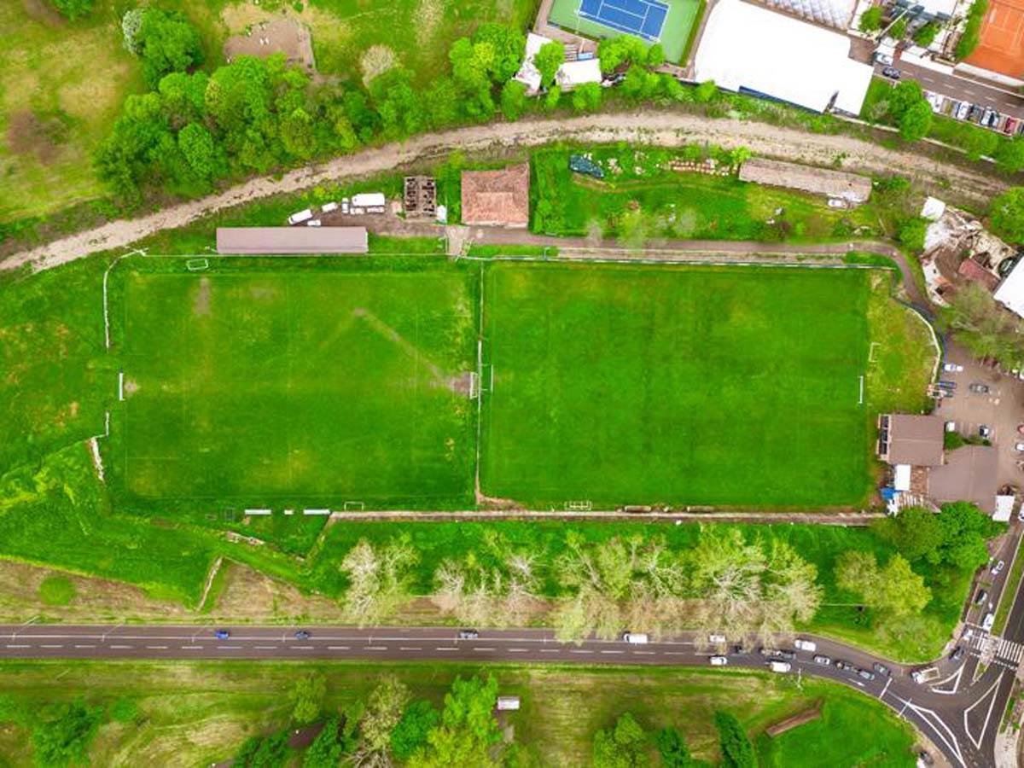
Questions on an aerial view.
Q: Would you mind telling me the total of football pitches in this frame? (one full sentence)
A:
Altogether the scene contains 2 football pitches.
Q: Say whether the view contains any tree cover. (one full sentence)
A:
Yes, tree cover shows up in the scene.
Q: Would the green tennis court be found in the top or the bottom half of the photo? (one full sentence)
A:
Seen from above, the green tennis court lies in the top half of the view.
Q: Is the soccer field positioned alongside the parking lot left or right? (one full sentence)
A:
The soccer field positioned alongside the parking lot is on the right side of the image.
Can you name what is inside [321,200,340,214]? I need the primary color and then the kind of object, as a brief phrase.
white vehicle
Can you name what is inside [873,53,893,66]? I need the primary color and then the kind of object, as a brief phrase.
white vehicle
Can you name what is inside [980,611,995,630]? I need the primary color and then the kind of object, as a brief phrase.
white car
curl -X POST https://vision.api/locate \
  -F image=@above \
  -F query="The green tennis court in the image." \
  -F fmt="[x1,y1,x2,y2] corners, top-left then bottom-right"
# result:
[547,0,698,64]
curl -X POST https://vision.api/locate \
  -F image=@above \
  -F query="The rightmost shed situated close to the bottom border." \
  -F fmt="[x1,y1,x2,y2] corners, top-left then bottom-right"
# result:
[764,701,823,738]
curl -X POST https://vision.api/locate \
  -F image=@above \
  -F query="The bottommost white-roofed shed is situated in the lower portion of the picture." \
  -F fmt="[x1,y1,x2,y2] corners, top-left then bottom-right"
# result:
[497,694,520,709]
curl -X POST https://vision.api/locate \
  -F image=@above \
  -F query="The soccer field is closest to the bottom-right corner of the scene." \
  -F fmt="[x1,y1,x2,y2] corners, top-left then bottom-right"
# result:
[488,267,868,507]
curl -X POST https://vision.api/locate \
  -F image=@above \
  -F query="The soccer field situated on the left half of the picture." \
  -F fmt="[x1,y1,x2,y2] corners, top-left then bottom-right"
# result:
[125,272,477,501]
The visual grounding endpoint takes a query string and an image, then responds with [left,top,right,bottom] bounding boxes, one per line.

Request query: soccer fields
[488,267,868,507]
[125,272,477,501]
